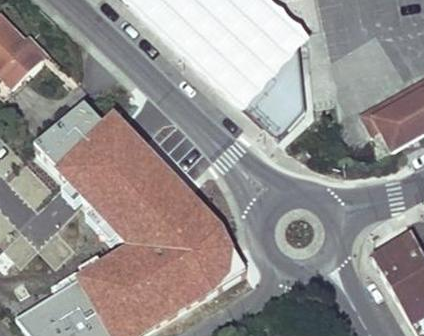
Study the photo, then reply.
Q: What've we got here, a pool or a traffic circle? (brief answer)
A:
traffic circle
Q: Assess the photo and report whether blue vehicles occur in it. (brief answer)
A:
No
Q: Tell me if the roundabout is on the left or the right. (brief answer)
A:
right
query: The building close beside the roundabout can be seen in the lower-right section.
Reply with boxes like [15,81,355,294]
[372,228,424,326]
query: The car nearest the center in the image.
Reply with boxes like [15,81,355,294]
[181,150,200,168]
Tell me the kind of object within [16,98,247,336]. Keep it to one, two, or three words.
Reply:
building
